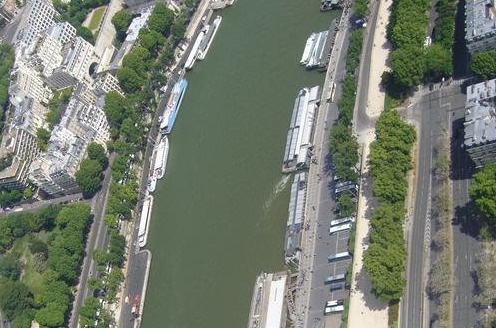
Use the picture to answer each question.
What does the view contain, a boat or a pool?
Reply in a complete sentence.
The image shows a boat.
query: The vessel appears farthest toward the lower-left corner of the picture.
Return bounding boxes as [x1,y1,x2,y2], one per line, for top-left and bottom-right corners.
[137,195,155,247]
